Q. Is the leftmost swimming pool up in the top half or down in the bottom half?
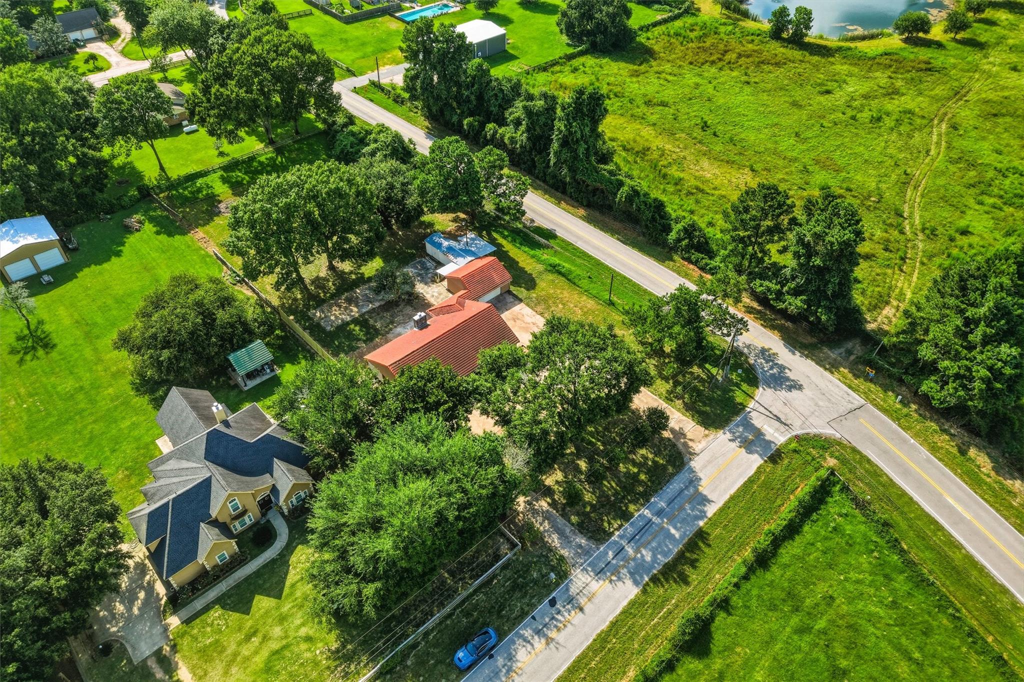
top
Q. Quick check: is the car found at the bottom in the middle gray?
No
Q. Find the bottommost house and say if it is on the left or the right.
left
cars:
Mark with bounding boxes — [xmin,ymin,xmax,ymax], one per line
[453,626,497,670]
[72,35,85,45]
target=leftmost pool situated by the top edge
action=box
[395,0,470,25]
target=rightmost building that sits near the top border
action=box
[450,17,511,56]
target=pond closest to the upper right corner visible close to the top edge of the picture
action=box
[745,0,957,39]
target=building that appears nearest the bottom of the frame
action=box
[129,385,317,589]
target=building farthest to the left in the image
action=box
[0,217,65,281]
